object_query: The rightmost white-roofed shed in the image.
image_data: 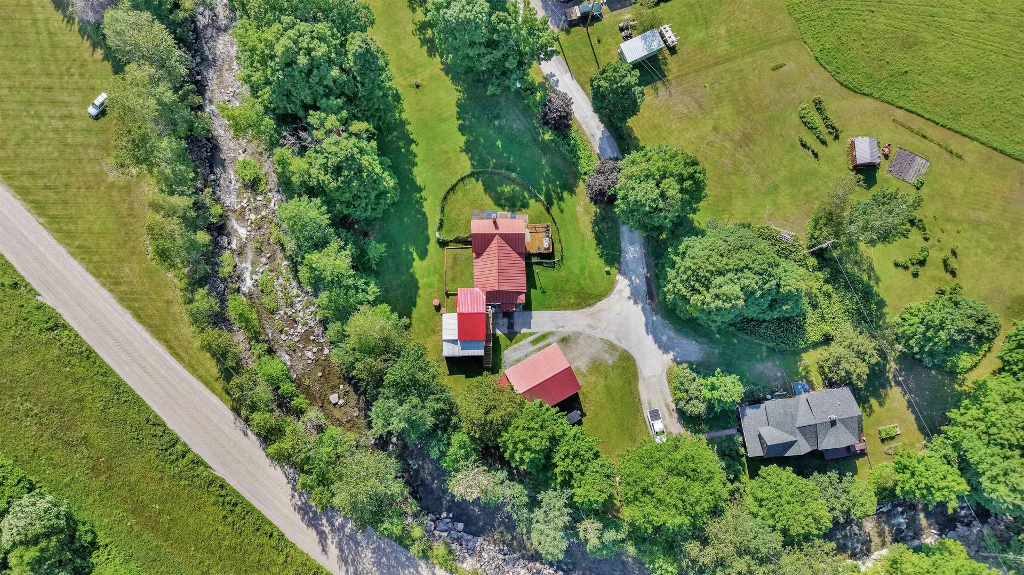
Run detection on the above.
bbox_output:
[847,137,880,167]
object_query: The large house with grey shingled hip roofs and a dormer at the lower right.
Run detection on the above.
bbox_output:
[734,387,862,458]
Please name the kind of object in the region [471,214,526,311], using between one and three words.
house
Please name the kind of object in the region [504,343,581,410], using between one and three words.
barn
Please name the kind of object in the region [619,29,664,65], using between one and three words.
shed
